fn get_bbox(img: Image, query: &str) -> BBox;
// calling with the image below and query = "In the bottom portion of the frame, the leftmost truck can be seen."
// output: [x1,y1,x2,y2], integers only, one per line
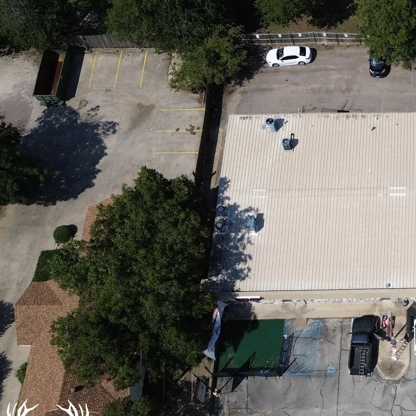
[348,318,383,379]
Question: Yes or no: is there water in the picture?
No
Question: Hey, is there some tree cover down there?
Yes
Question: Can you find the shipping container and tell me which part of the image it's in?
top left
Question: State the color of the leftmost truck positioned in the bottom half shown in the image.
black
